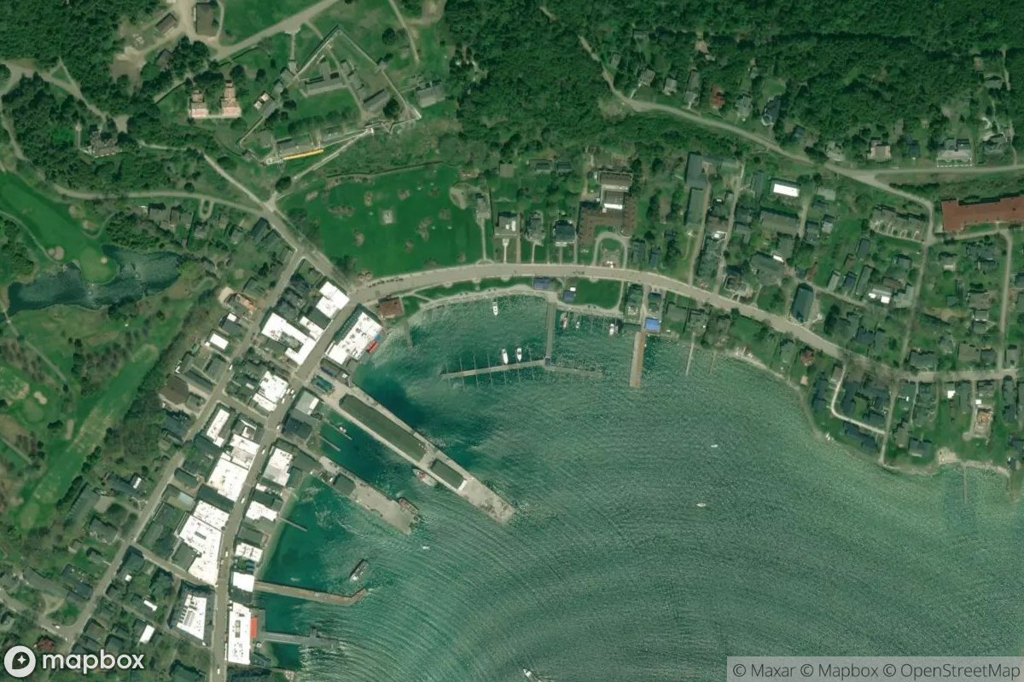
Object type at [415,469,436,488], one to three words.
ship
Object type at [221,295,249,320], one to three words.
house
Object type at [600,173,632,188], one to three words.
building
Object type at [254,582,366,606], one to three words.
pier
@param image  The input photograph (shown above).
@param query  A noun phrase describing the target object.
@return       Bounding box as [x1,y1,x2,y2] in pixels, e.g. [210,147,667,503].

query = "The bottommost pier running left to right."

[262,629,339,647]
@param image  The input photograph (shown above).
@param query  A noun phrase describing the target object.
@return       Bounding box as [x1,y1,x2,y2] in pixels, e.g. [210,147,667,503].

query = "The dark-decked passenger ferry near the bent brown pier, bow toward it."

[350,560,367,580]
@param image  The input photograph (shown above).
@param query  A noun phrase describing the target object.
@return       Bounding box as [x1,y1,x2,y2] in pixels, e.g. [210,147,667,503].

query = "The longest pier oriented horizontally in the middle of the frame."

[441,358,546,378]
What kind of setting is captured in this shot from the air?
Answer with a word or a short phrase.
residential area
